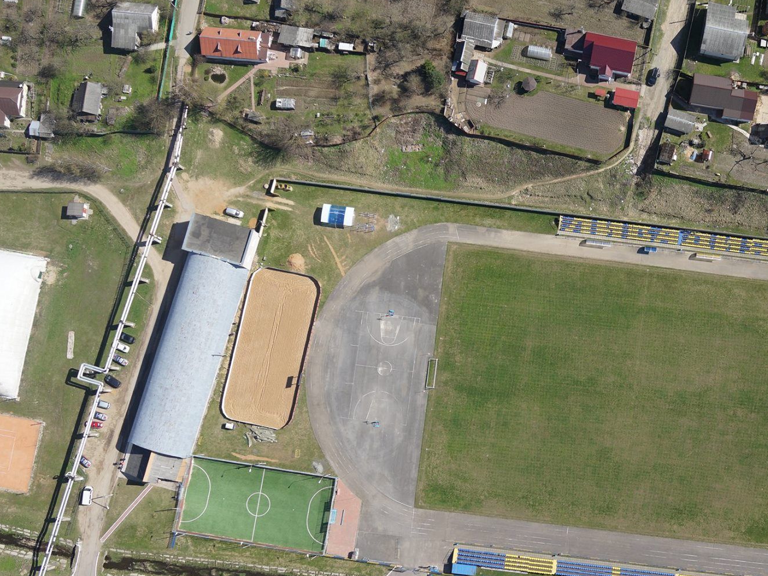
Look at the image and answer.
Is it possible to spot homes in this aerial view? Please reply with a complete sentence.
Yes, there's a home down there.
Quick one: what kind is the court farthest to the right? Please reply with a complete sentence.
What you see as the court farthest to the right is a basketball court.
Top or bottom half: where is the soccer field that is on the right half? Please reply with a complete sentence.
Seen from above, the soccer field that is on the right half lies in the bottom half of the view.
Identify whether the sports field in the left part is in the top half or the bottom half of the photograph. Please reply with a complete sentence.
The sports field in the left part sits in the bottom half of the picture.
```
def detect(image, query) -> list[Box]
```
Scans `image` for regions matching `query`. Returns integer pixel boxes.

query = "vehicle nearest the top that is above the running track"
[646,66,659,87]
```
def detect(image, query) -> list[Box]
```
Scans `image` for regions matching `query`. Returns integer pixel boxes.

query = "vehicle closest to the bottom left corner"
[80,484,93,508]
